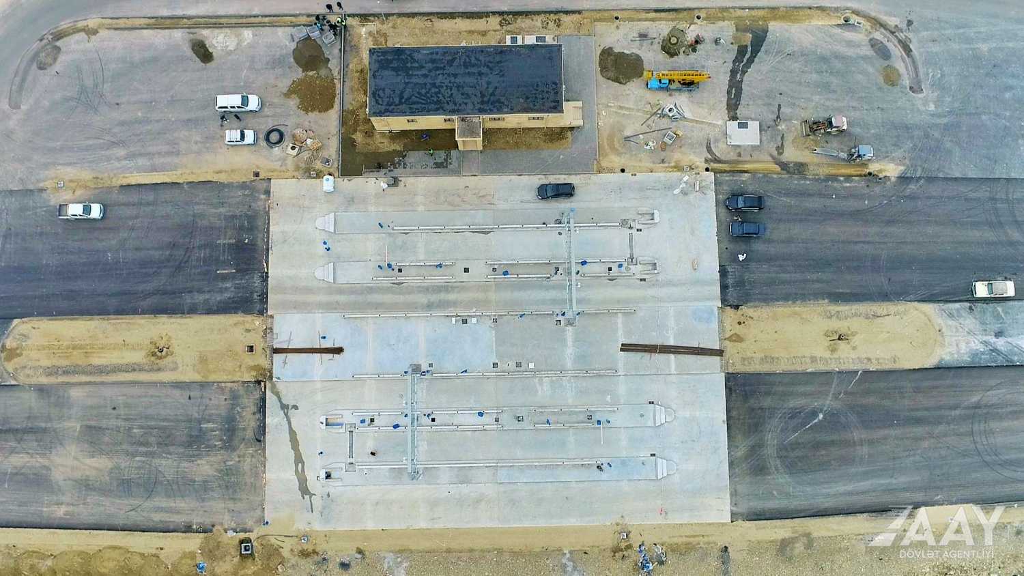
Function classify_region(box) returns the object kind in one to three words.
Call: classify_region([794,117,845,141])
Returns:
work vehicle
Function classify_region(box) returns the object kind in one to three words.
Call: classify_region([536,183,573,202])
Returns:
car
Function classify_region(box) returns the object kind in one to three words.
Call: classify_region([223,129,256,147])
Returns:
car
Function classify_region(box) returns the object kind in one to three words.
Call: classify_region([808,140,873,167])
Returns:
work vehicle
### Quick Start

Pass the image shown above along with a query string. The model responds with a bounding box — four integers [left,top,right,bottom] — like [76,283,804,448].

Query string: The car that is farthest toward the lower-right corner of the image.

[974,280,1017,298]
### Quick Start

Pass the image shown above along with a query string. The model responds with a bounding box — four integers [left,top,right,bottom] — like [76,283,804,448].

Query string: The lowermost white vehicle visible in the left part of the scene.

[56,202,102,221]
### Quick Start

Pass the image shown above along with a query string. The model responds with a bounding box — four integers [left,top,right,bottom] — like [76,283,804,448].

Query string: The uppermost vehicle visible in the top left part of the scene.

[215,93,260,114]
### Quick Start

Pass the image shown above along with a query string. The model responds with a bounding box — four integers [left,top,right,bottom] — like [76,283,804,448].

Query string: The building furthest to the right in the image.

[365,43,585,150]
